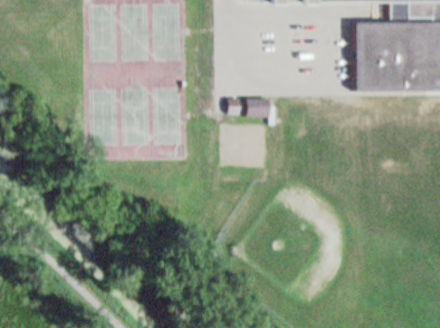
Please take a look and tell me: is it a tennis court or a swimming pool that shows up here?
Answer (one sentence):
The one in the frame is a tennis court.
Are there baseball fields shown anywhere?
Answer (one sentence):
Yes, the image includes a baseball field.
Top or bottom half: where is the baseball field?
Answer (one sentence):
You can find the baseball field in the bottom half.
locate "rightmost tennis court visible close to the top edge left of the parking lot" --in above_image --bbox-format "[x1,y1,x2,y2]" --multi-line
[151,4,181,62]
